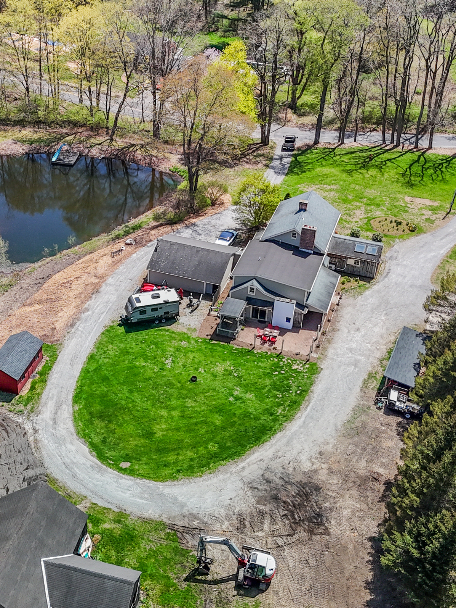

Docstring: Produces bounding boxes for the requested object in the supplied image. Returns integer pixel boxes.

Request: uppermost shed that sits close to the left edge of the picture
[0,331,43,394]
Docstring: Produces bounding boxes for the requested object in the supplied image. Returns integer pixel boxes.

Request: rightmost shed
[382,325,426,404]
